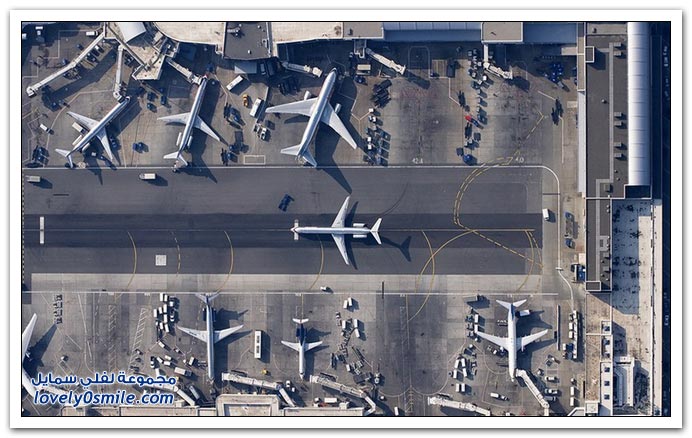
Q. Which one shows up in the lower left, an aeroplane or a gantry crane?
aeroplane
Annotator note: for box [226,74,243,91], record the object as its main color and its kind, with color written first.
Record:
white vehicle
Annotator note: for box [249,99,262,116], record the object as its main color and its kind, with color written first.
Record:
white vehicle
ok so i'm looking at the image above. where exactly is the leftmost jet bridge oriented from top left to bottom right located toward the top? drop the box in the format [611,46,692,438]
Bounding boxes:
[164,58,203,83]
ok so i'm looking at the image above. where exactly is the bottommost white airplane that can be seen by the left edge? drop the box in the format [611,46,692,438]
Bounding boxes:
[0,314,42,400]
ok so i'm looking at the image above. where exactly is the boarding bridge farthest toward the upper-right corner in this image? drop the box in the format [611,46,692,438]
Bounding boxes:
[483,60,514,80]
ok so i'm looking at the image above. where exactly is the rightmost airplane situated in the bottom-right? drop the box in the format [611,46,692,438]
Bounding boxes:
[477,304,547,383]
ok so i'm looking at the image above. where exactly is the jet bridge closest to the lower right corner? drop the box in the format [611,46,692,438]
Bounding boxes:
[513,370,550,424]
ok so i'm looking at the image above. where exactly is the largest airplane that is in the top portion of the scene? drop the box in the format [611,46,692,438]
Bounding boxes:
[266,68,355,162]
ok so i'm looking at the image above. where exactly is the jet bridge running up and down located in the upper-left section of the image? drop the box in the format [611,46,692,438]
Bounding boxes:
[113,43,125,99]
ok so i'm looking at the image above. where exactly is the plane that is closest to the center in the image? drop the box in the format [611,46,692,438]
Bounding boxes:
[291,197,382,264]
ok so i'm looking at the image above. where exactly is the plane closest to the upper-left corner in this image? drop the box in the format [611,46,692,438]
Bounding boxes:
[55,97,131,168]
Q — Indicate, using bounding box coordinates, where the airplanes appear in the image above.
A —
[477,304,547,383]
[291,197,382,264]
[282,322,322,379]
[266,68,355,162]
[0,314,42,400]
[176,292,242,379]
[55,97,131,168]
[156,76,219,165]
